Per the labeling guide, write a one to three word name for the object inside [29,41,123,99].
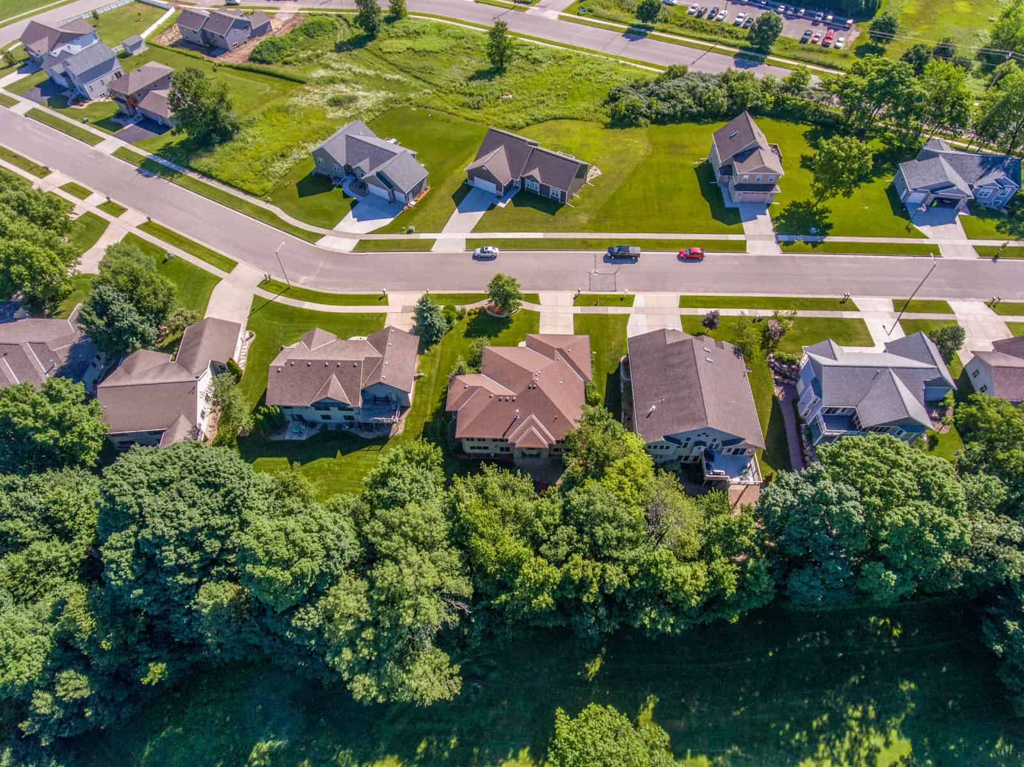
house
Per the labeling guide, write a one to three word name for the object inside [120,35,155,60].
shed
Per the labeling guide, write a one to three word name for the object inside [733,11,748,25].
vehicle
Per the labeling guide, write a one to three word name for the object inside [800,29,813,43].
vehicle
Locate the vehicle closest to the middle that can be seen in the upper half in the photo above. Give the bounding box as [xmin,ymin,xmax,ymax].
[473,247,500,260]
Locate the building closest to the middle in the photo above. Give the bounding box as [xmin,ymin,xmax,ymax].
[446,333,592,466]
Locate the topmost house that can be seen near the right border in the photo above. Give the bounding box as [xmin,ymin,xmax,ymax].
[894,138,1024,210]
